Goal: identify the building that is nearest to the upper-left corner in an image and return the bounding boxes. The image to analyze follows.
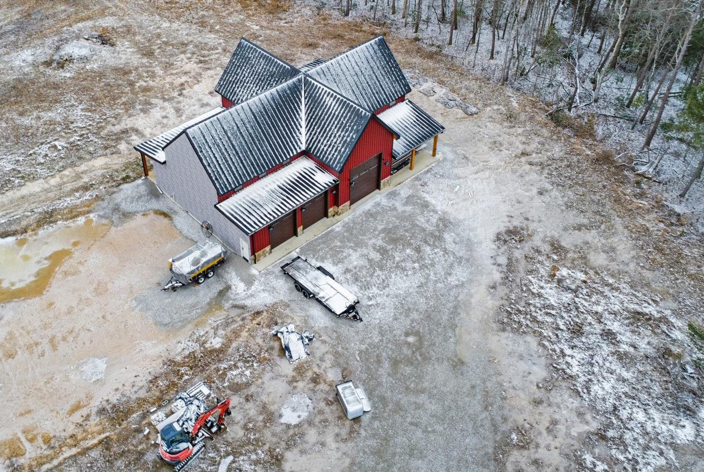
[133,36,445,266]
